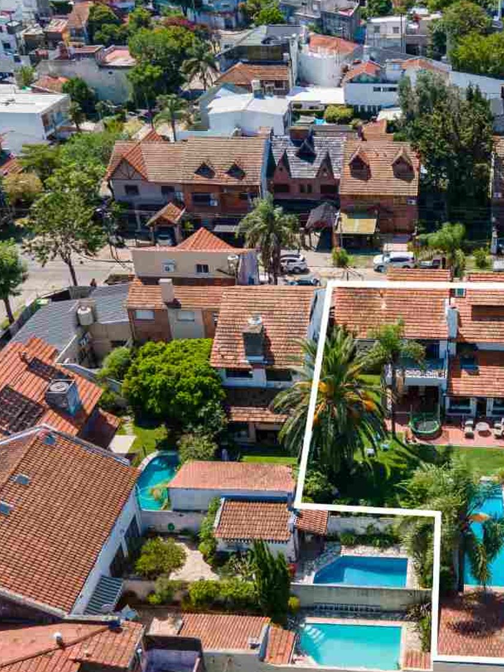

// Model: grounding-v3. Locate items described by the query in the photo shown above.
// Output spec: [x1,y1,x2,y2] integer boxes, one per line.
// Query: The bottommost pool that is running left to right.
[297,623,403,667]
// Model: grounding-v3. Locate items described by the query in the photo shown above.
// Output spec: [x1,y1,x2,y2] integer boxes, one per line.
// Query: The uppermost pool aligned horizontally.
[316,555,412,582]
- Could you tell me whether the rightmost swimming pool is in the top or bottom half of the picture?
bottom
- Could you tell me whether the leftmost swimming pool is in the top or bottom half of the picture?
bottom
